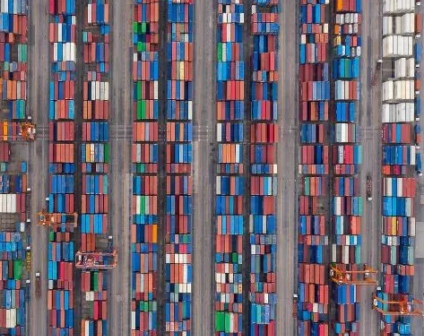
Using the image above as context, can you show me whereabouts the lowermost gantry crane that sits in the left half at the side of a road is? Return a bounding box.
[75,244,118,270]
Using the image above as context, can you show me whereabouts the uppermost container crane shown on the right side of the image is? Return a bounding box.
[327,260,378,285]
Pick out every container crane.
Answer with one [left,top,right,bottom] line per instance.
[368,289,423,316]
[37,207,80,230]
[75,244,118,270]
[327,260,378,285]
[0,122,38,145]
